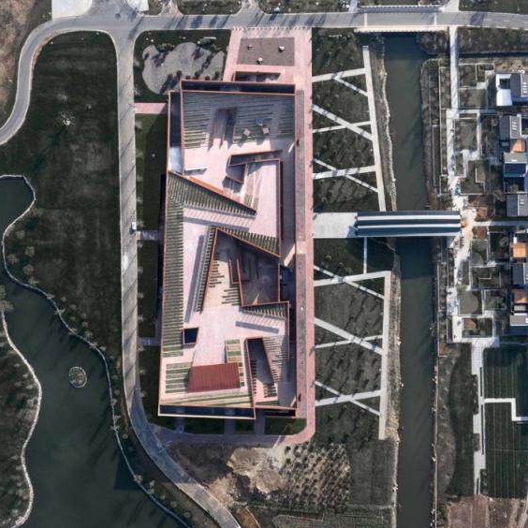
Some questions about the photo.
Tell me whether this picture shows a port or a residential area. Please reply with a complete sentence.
What you see here is a residential area.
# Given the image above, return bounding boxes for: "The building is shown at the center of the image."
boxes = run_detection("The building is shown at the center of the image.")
[158,71,300,419]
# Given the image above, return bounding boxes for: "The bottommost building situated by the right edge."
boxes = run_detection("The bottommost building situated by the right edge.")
[509,314,528,335]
